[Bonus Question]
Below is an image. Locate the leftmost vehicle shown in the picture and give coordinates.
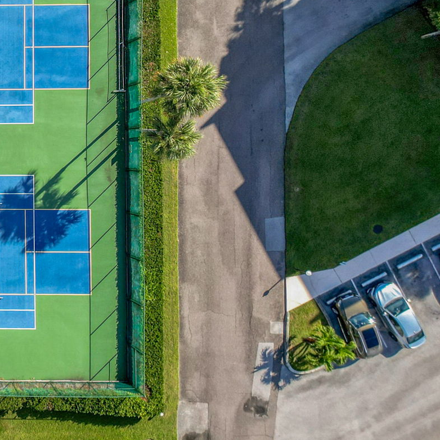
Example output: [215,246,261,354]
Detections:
[332,291,387,360]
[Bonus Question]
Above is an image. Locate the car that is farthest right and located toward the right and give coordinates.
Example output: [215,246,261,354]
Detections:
[370,280,425,350]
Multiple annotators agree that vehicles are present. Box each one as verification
[332,291,387,360]
[370,280,425,350]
